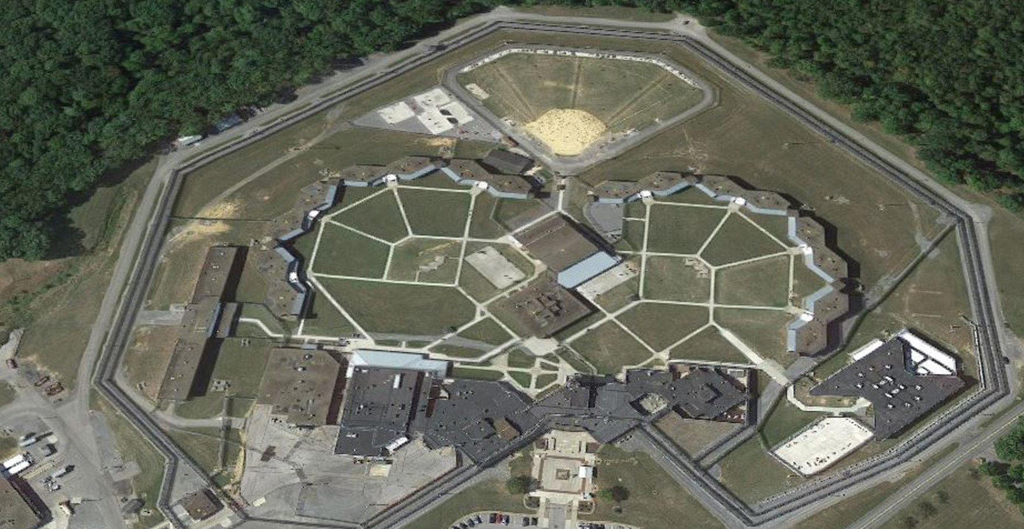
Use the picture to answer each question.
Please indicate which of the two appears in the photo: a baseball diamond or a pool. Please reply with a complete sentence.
Visible in the photo is a baseball diamond.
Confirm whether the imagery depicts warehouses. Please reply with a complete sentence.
Yes, a warehouse appears in the view.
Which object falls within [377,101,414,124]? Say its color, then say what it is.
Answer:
white basketball court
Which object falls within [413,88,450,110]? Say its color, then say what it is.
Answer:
white basketball court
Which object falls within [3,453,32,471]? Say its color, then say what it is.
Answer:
white vehicle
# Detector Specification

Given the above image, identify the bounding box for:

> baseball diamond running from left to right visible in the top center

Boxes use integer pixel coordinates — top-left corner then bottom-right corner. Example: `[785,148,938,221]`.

[454,49,704,158]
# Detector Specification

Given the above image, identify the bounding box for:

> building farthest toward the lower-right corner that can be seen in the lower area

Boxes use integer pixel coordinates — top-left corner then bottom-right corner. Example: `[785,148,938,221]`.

[809,333,965,447]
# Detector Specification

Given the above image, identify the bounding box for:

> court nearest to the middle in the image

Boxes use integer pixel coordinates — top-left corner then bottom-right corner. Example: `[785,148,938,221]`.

[466,246,526,289]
